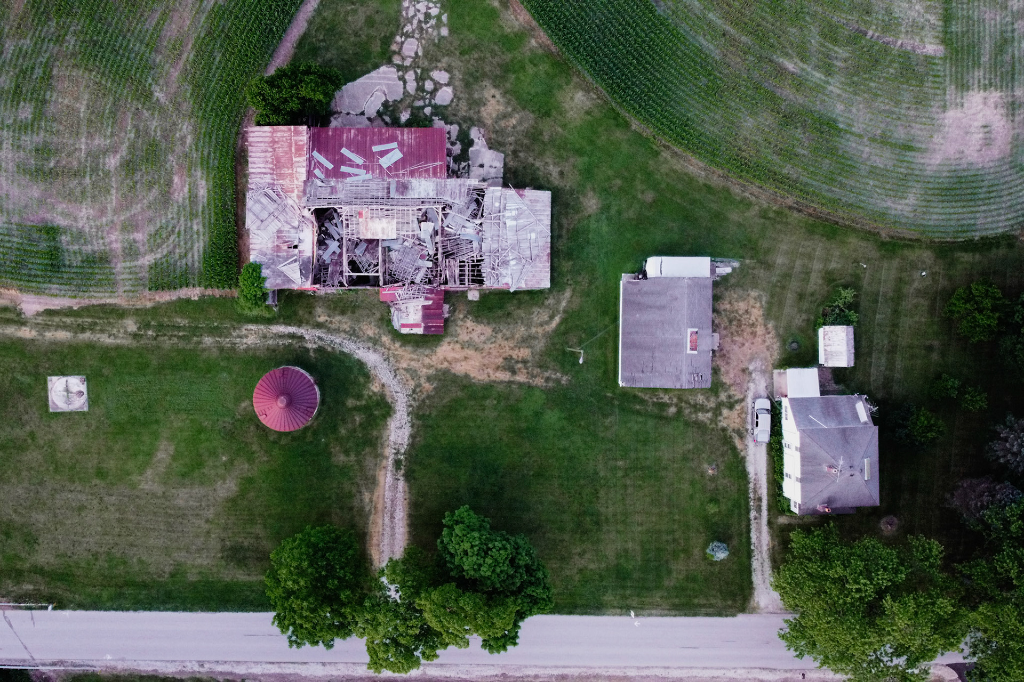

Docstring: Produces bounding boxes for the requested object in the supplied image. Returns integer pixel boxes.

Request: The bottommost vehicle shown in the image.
[751,398,773,444]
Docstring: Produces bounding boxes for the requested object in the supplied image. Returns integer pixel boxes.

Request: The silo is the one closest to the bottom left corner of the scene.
[253,365,323,432]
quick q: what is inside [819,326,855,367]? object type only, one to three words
shed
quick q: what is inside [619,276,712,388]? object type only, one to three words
building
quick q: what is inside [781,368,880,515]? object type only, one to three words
house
